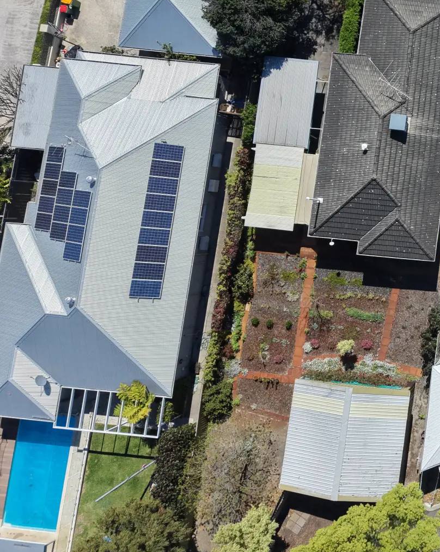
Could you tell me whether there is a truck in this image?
No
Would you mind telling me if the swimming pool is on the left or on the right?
left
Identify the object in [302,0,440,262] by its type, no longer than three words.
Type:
house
